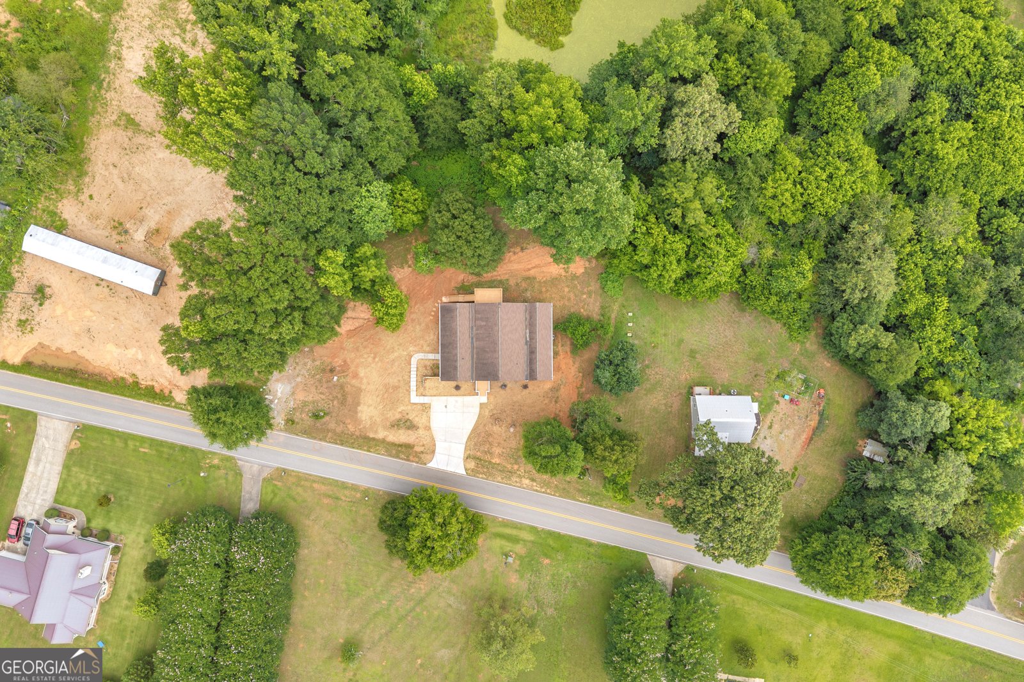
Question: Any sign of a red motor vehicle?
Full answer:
Yes, the frame does contain a red motor vehicle.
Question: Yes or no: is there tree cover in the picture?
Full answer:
Yes, some tree cover is visible.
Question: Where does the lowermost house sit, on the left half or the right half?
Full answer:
The lowermost house sits on the left side.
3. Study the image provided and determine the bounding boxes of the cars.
[8,516,26,544]
[22,519,40,545]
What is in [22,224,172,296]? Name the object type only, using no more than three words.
house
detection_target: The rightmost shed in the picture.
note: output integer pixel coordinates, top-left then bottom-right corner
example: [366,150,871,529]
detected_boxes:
[857,437,888,463]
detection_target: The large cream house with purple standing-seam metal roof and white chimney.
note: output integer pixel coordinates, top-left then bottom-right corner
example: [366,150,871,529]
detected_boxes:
[0,516,115,644]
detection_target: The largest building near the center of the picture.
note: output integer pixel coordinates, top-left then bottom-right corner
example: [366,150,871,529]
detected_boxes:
[439,303,554,396]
